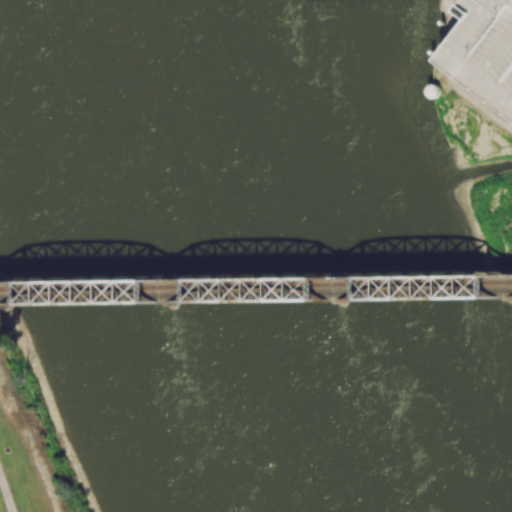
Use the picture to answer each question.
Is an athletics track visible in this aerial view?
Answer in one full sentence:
No, no athletics track is visible in the scene.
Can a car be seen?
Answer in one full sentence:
No, the frame has no car in it.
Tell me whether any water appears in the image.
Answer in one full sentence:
Yes, the picture does contain water.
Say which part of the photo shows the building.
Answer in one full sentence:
Look in the top right portion of the view to spot the building.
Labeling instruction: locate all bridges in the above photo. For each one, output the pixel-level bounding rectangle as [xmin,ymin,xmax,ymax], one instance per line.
[0,273,512,310]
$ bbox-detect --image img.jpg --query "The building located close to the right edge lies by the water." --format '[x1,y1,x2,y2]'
[429,0,512,124]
